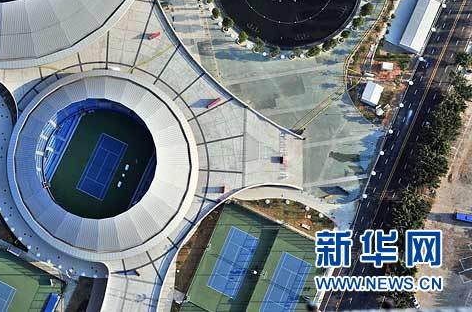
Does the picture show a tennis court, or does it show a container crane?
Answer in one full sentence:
I can see a tennis court in this picture.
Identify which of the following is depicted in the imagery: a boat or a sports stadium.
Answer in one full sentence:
The image shows a sports stadium.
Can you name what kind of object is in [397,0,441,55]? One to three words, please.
shed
